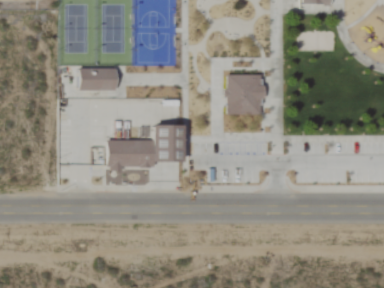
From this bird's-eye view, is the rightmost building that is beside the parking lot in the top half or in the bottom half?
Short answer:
top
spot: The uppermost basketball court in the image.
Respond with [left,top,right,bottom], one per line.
[132,0,176,30]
